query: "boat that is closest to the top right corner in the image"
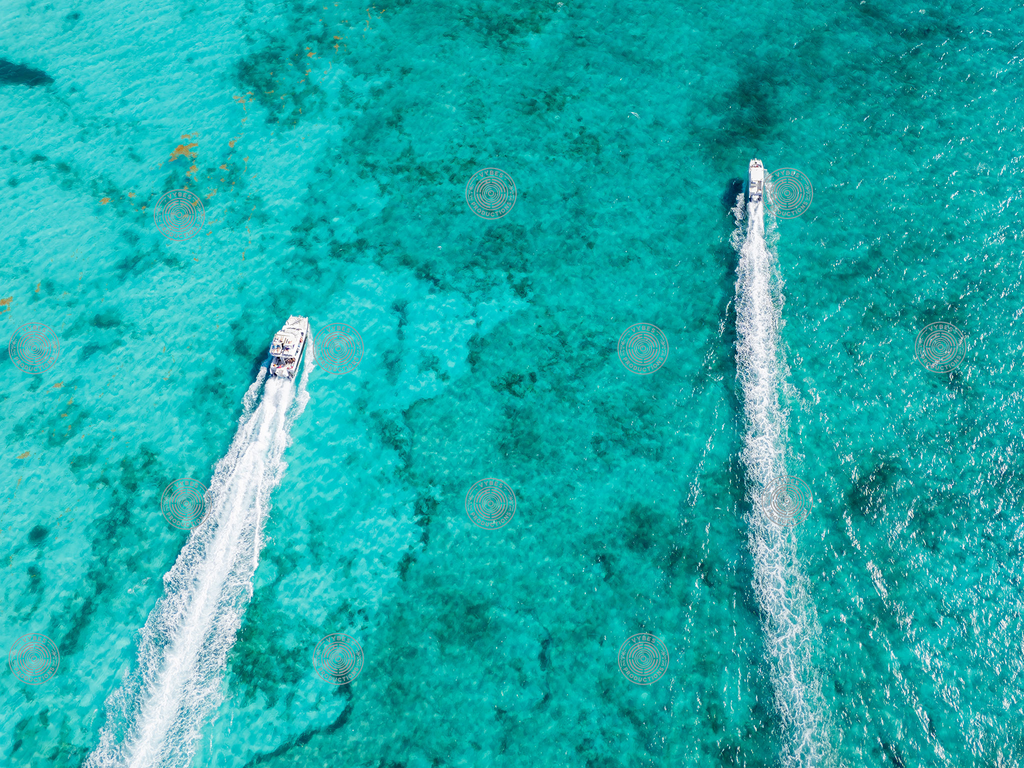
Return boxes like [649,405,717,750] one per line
[748,157,765,204]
